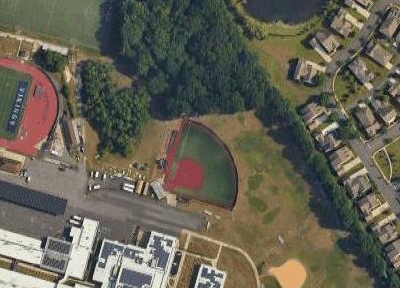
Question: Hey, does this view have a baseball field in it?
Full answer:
Yes, the picture does show a baseball field.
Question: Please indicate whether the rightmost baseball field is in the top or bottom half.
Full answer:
The rightmost baseball field sits in the bottom half of the picture.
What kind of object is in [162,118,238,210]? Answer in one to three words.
baseball field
